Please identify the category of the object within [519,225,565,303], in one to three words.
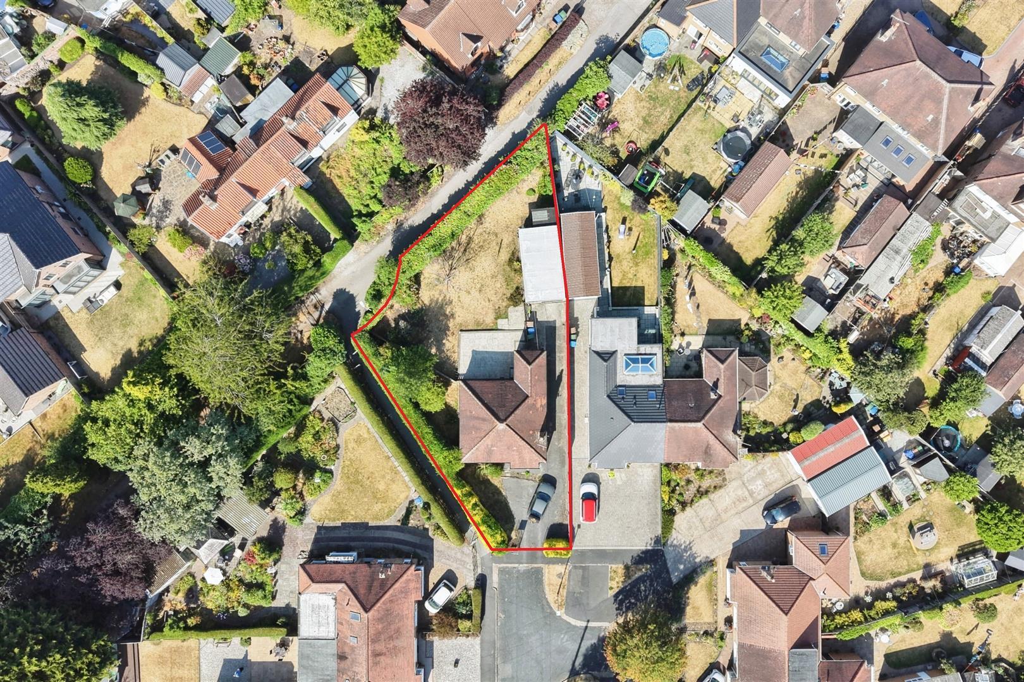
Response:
building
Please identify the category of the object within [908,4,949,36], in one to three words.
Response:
car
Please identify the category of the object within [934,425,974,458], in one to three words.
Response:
trampoline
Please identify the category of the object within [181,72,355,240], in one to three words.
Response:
house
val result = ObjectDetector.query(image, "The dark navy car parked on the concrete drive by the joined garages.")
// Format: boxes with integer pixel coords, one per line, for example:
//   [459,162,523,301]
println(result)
[764,497,805,527]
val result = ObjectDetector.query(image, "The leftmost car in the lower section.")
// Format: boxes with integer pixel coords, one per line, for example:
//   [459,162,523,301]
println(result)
[425,580,455,613]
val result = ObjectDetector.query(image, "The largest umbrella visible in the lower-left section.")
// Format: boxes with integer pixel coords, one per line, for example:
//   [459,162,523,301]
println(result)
[204,565,224,585]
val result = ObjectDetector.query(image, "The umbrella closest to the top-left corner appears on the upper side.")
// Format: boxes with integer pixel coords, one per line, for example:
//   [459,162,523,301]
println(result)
[116,193,141,218]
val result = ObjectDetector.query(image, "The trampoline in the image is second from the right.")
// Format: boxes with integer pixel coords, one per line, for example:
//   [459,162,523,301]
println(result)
[719,123,757,160]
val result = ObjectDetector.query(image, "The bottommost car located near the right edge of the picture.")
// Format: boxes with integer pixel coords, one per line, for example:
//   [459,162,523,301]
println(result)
[1000,72,1024,110]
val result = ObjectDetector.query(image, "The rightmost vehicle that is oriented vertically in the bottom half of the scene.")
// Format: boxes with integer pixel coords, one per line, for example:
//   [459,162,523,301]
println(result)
[580,484,600,524]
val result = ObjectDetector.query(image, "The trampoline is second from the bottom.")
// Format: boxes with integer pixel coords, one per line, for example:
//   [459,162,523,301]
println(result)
[631,158,666,192]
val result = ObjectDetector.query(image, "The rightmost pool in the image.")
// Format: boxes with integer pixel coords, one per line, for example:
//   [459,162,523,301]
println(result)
[639,24,672,59]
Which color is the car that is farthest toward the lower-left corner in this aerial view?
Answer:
white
